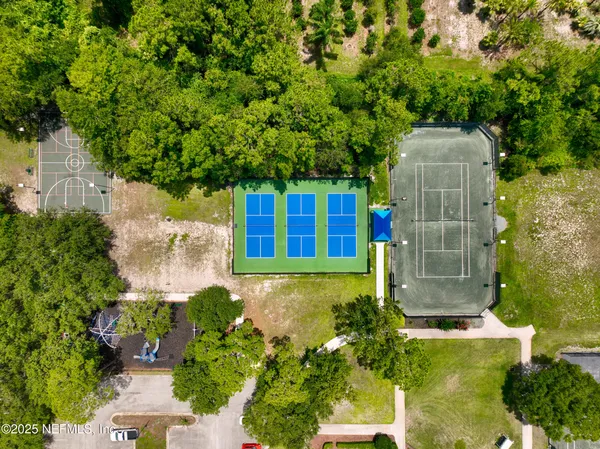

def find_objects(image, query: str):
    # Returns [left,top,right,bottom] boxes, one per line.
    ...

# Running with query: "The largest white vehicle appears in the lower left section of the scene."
[110,428,140,443]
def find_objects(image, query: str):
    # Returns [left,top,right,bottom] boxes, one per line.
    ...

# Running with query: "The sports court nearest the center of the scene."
[287,193,316,258]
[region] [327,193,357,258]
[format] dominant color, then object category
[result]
blue sports court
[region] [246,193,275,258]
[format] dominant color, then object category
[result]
blue sports court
